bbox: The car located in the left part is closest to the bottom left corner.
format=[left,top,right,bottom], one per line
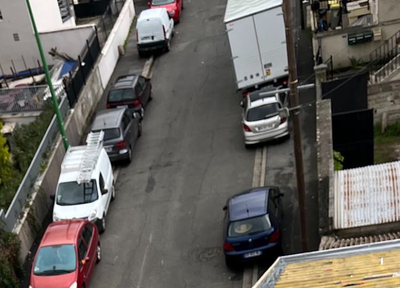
[21,220,97,288]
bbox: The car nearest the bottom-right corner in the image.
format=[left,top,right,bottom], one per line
[223,186,286,261]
